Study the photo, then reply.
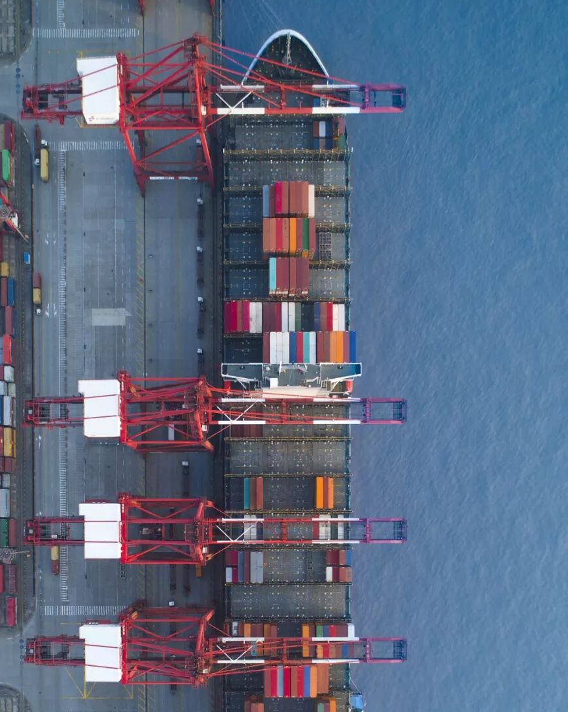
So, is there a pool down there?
No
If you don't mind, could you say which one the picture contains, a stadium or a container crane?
container crane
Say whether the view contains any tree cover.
No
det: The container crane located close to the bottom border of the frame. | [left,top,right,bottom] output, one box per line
[22,597,408,687]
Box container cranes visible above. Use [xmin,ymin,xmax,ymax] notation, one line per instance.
[19,31,406,197]
[22,489,408,567]
[22,597,408,687]
[21,369,408,460]
[0,191,23,243]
